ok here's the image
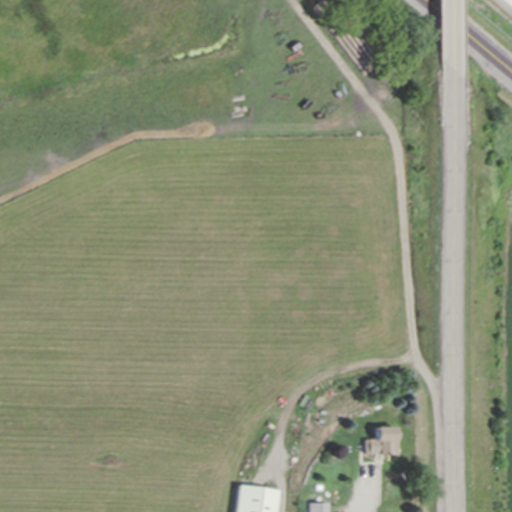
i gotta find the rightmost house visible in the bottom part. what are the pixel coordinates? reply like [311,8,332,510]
[366,428,404,456]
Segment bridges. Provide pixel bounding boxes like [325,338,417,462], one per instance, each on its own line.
[444,0,470,76]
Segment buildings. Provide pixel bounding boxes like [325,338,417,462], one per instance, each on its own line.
[308,503,330,512]
[238,486,283,512]
[366,428,404,456]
